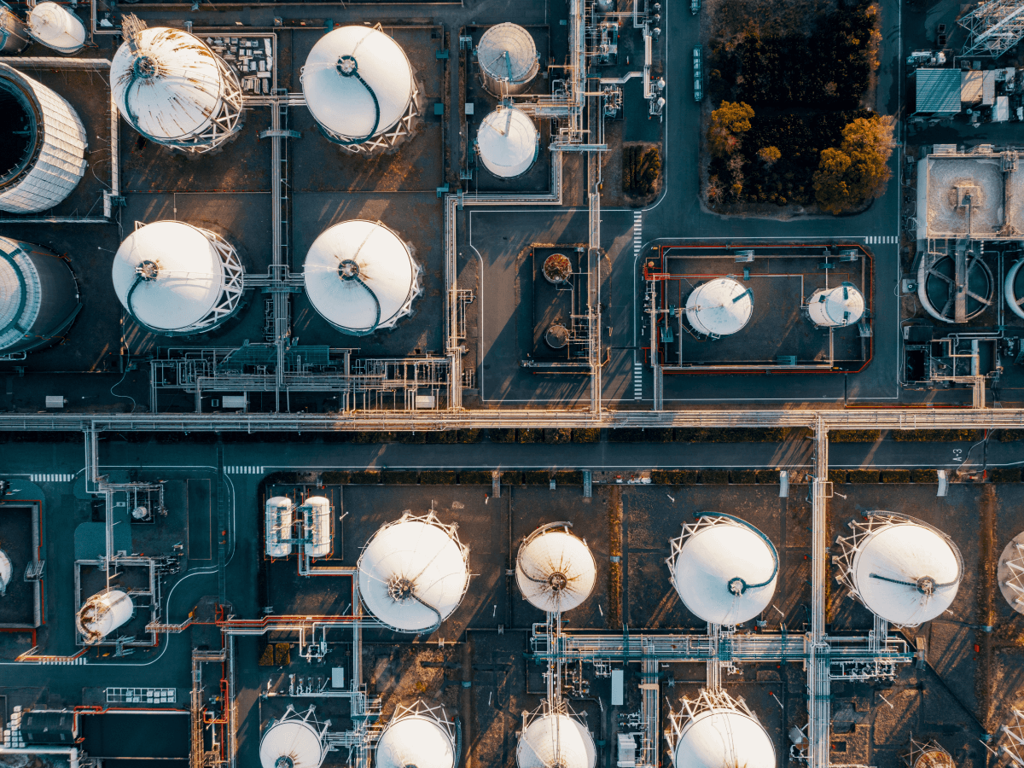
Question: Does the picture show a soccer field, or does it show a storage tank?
storage tank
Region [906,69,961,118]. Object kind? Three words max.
shed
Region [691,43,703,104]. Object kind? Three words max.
vehicle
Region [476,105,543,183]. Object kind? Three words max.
storage tank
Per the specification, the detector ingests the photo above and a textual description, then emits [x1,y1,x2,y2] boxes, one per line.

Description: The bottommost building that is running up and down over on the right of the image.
[610,665,623,705]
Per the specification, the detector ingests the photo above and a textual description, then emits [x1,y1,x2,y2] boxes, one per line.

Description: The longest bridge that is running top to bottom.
[955,240,968,322]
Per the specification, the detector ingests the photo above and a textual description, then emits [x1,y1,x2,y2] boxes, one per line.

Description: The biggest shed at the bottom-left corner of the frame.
[22,707,80,740]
